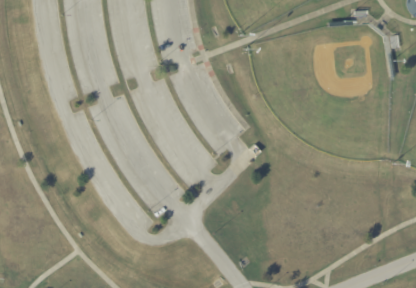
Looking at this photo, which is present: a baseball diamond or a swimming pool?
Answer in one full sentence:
It is a baseball diamond that can be seen here.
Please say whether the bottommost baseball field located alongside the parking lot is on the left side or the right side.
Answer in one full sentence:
It is on the right.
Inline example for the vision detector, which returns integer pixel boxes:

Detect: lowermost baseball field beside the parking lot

[250,26,394,161]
